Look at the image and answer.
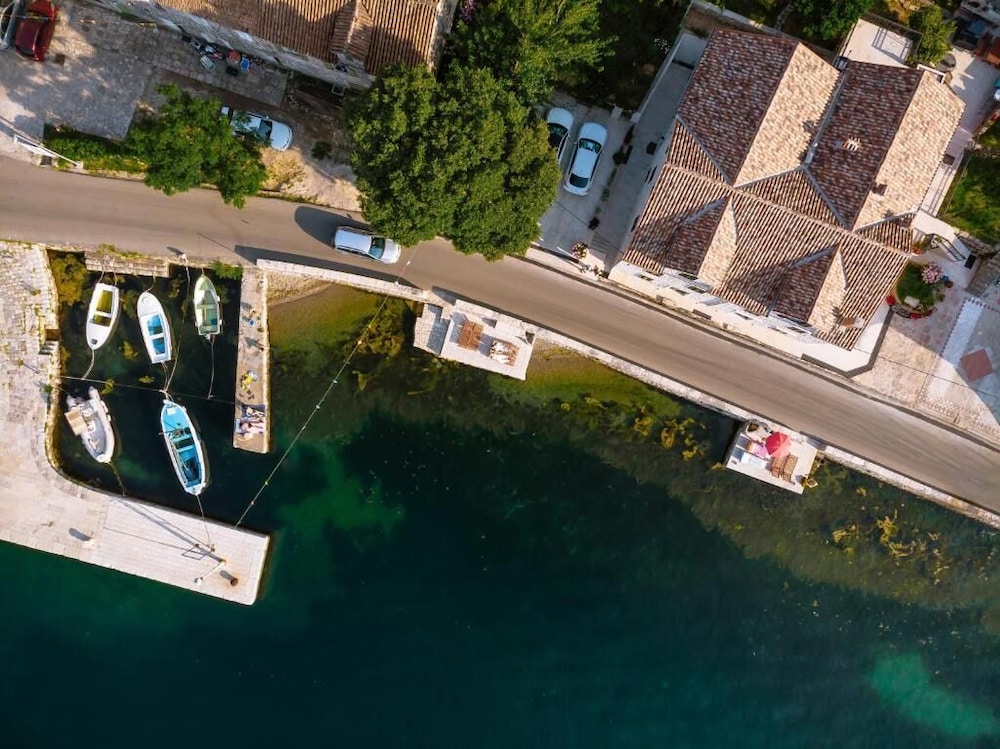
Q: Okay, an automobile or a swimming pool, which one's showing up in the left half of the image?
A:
automobile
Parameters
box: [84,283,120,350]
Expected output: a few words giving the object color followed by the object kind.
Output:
white boat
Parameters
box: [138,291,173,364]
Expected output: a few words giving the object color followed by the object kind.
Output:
white boat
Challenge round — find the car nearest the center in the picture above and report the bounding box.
[329,223,401,264]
